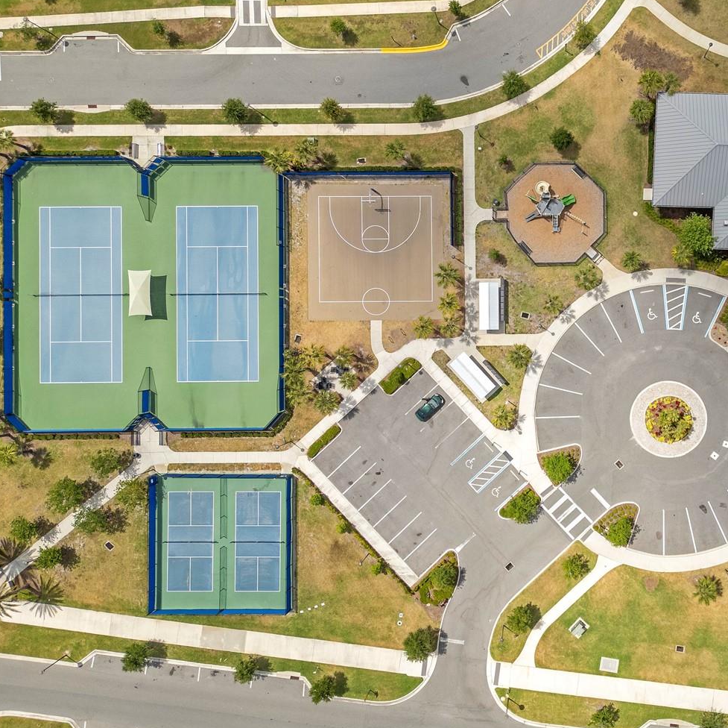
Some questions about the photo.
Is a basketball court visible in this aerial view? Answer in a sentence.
Yes, the picture does show a basketball court.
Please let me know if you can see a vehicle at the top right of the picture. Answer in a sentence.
No, there's no vehicle to be seen at the top right of the picture.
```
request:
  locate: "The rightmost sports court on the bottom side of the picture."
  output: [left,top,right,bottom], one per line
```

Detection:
[229,492,285,592]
